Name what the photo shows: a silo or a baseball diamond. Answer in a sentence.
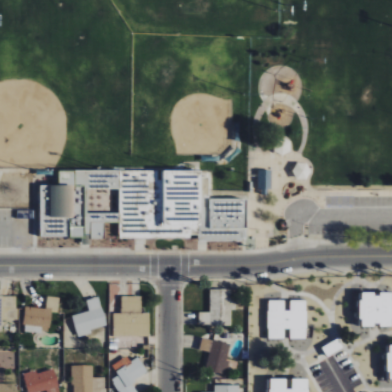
Looking from above, you can make out a baseball diamond.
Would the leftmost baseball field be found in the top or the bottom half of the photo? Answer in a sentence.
The top half of the photo is where the leftmost baseball field is.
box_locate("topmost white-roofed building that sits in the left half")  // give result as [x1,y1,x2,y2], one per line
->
[38,170,247,241]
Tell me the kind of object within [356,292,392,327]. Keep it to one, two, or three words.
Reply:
building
